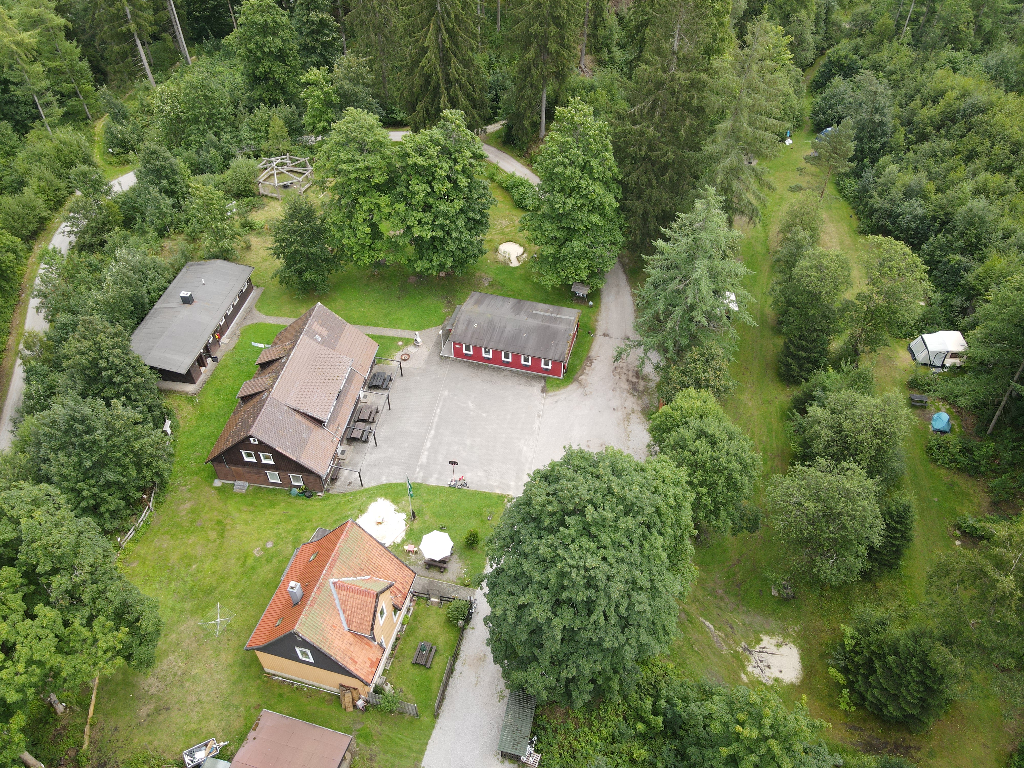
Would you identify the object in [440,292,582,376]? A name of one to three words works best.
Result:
house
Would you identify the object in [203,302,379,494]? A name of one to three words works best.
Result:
house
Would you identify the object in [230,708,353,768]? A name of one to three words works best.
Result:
building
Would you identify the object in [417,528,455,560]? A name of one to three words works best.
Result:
umbrella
